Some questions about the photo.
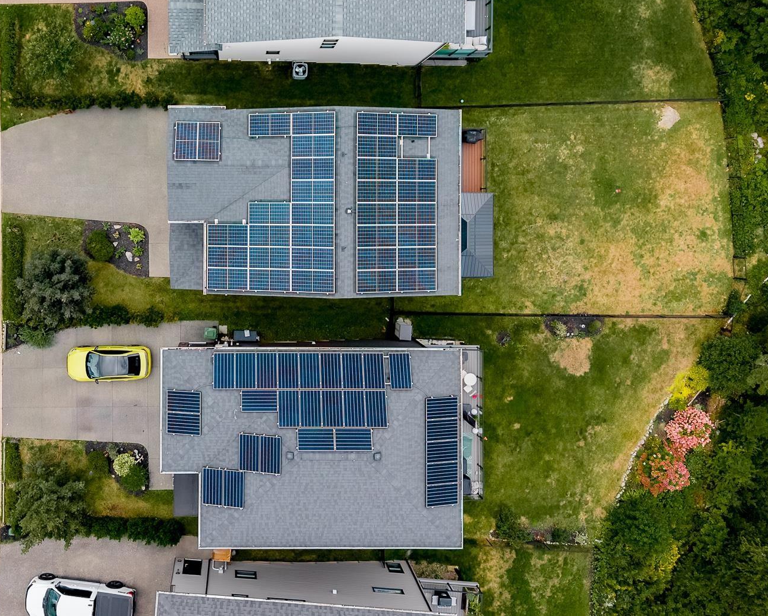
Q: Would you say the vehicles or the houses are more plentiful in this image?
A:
houses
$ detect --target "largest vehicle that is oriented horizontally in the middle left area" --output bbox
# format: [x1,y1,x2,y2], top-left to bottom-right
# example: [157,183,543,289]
[68,343,152,384]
